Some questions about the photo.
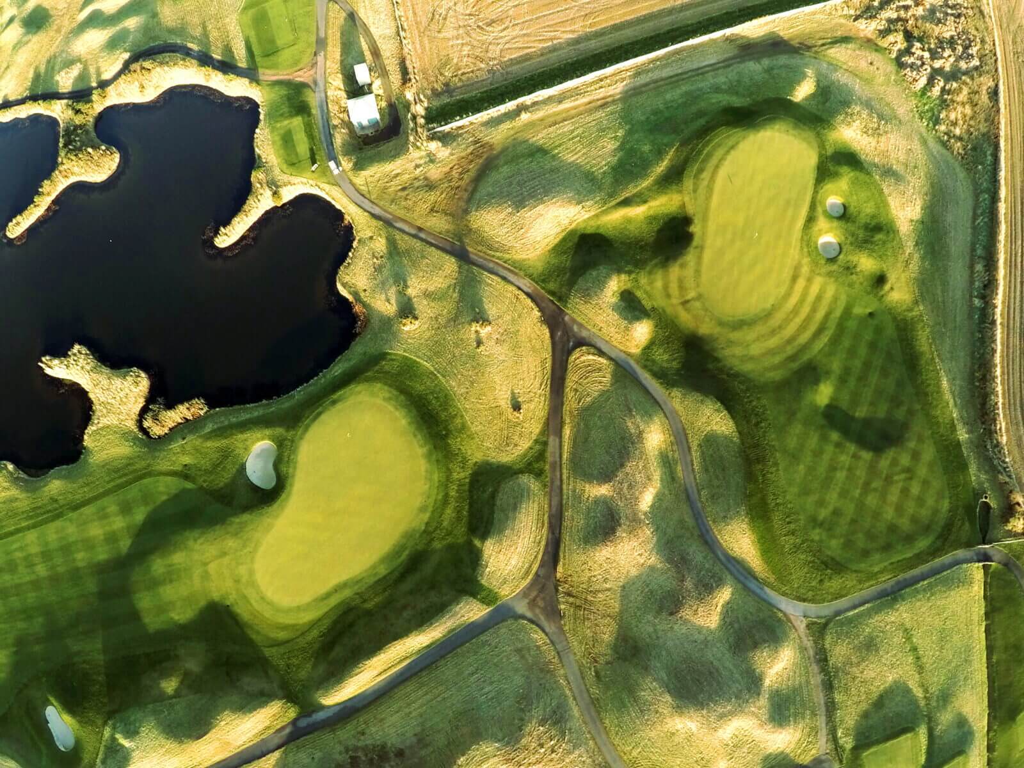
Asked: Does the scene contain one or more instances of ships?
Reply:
No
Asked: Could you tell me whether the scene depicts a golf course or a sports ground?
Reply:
golf course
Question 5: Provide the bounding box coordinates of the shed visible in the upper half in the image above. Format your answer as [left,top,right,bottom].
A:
[346,95,383,135]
